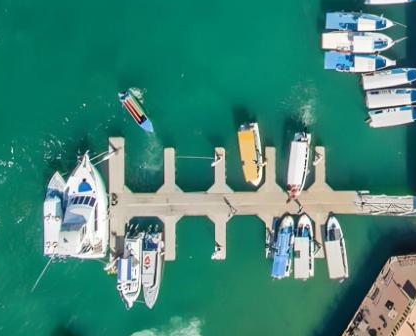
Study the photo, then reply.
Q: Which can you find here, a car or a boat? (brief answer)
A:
boat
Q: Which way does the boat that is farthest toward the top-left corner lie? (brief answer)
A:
diagonally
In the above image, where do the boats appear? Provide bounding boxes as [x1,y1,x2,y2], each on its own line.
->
[58,147,110,259]
[292,214,314,281]
[324,216,348,282]
[365,105,416,128]
[270,215,296,281]
[119,227,145,309]
[119,90,154,132]
[141,227,163,309]
[239,121,266,186]
[321,31,403,52]
[361,67,416,91]
[45,172,67,261]
[365,89,416,109]
[324,11,399,32]
[285,131,311,197]
[323,51,398,71]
